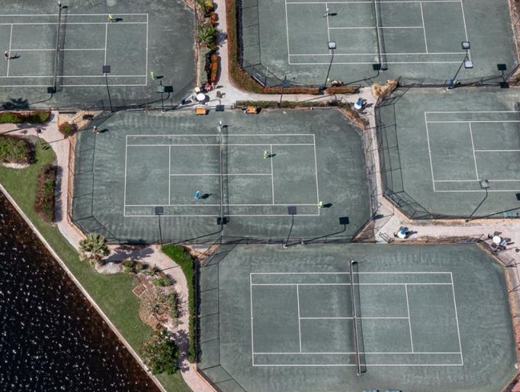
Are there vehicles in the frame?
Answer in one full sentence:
No, no vehicle is visible in the scene.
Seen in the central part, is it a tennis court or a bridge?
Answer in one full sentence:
The feature located in the central part is a tennis court.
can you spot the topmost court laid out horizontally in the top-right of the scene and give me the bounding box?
[238,0,520,87]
